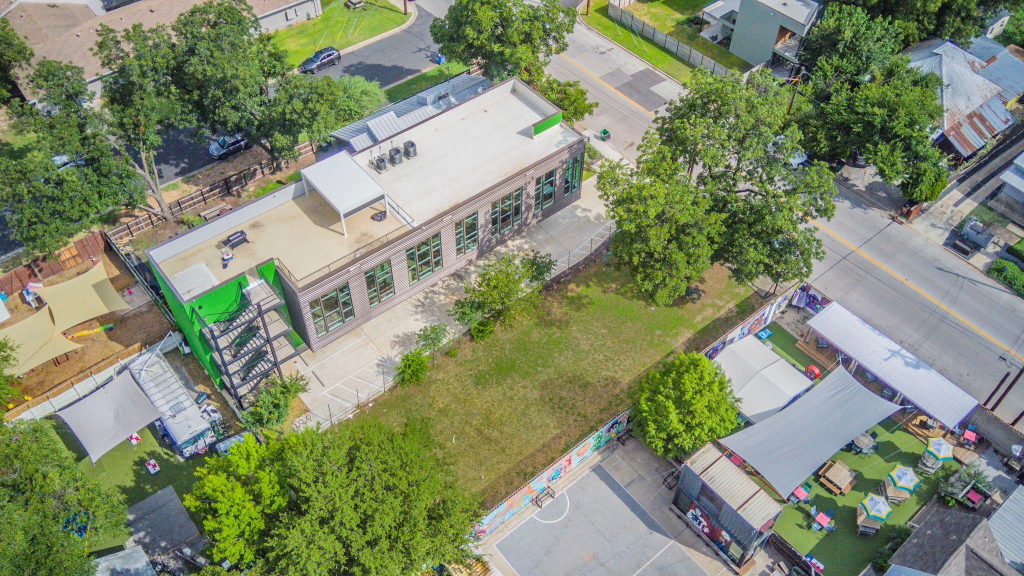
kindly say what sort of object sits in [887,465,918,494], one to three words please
umbrella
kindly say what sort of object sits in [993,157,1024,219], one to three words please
house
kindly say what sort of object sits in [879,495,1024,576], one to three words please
house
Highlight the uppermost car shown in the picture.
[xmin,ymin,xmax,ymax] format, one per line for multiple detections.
[298,44,343,74]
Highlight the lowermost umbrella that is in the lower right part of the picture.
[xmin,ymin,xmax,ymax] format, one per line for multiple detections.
[860,493,892,523]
